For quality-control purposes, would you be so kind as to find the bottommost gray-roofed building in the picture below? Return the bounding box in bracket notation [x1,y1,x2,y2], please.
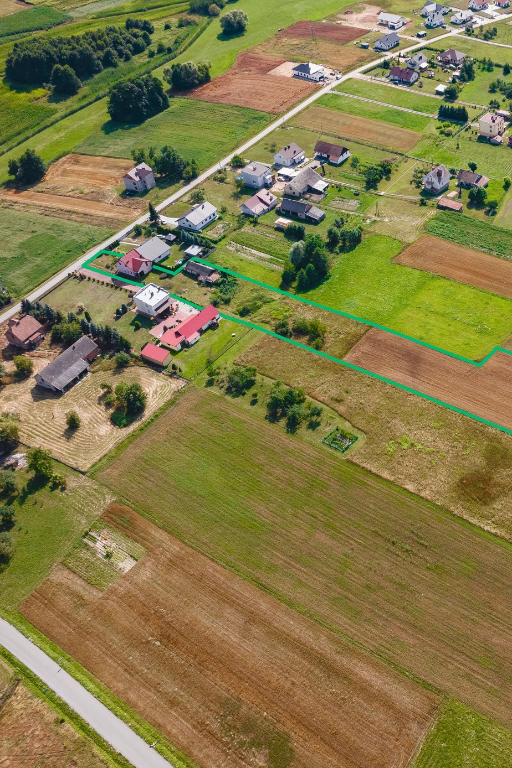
[32,335,102,396]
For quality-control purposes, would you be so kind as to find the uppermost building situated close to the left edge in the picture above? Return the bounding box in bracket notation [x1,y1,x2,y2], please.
[4,315,47,346]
